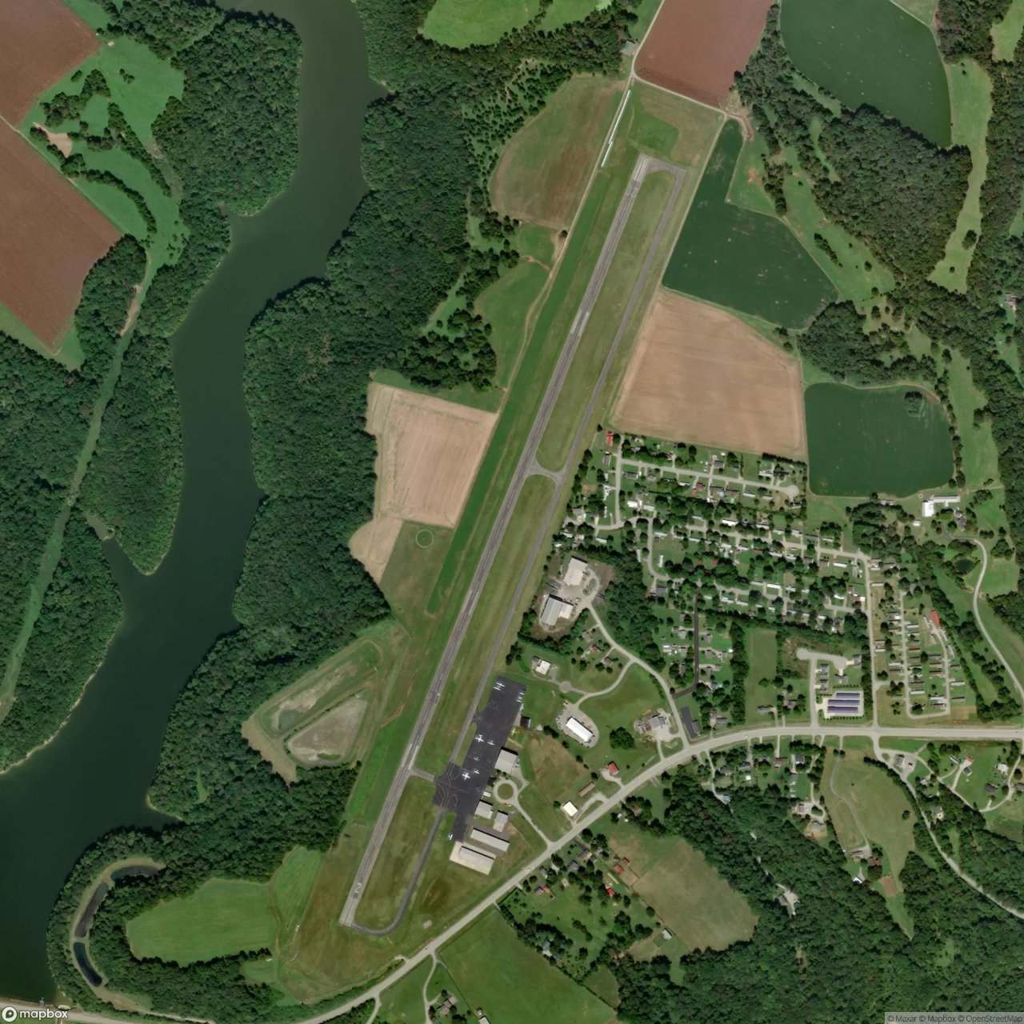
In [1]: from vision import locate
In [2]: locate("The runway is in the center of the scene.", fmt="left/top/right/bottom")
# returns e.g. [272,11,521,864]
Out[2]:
[339,153,653,926]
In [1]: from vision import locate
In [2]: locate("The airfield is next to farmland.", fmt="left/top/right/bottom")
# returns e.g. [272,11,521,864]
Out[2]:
[339,153,685,935]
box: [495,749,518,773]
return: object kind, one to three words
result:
hangar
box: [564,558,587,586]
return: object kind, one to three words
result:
building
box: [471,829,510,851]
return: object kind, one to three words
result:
hangar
